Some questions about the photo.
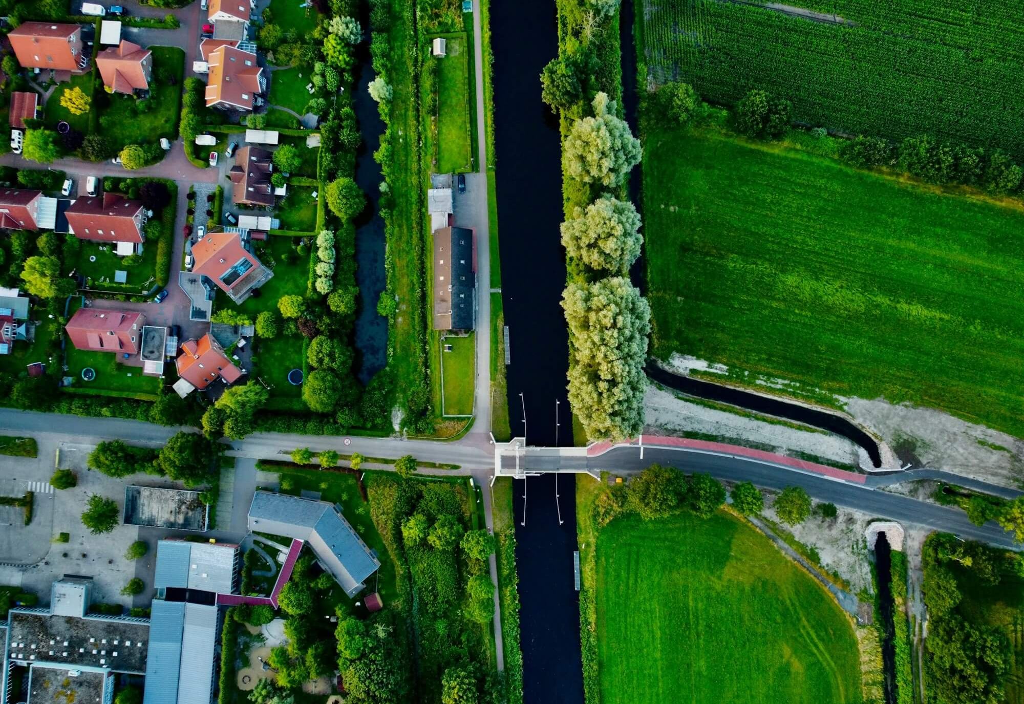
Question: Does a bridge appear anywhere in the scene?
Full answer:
Yes, the photo shows a bridge.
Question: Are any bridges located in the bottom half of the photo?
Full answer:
Yes, I can see a bridge in the bottom half of the photo.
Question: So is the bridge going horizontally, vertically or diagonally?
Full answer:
In this picture, the bridge is oriented horizontally.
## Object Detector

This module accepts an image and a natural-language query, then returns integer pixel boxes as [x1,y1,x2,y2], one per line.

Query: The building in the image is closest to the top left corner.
[8,22,91,72]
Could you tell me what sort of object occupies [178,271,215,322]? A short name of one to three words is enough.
building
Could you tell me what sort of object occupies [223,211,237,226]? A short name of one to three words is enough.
car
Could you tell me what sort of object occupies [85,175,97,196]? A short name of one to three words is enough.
vehicle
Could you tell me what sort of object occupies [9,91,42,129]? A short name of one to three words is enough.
shed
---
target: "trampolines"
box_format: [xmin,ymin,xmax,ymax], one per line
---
[287,369,303,385]
[79,368,95,381]
[58,121,69,133]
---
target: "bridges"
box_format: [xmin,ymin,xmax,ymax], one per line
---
[489,431,600,487]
